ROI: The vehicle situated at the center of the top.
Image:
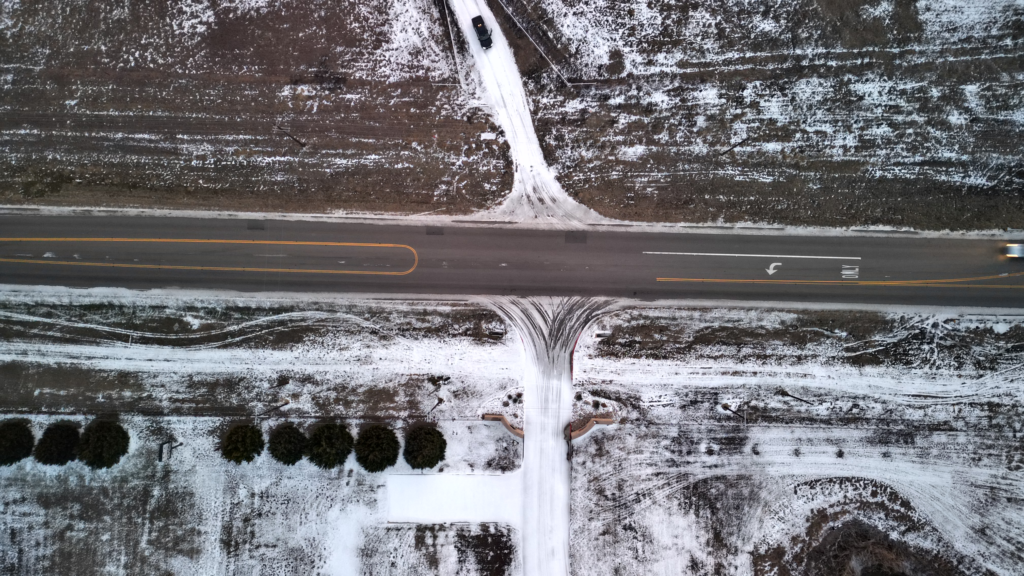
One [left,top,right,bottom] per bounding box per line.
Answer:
[471,15,492,51]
